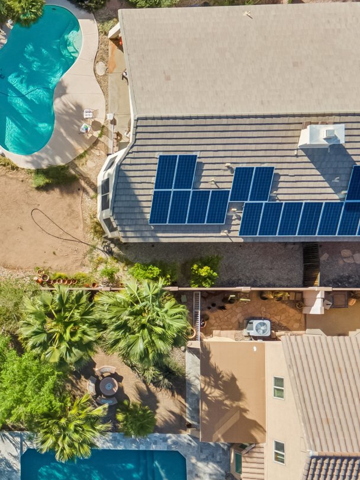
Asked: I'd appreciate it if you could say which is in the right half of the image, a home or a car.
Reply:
home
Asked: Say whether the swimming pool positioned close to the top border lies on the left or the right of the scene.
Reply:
left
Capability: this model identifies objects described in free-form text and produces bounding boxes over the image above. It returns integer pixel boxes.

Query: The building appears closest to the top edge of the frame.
[97,1,360,242]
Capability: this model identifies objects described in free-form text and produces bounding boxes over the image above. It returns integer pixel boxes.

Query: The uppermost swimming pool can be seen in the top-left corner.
[0,2,85,156]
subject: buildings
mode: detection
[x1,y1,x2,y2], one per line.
[195,335,360,480]
[97,1,360,242]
